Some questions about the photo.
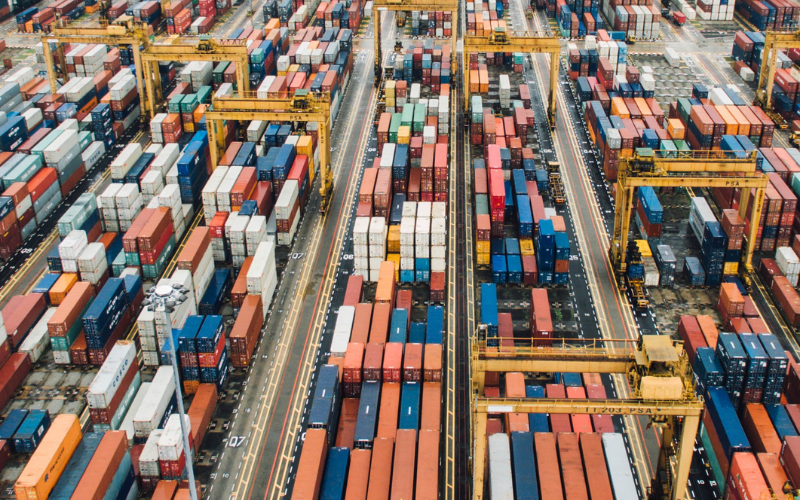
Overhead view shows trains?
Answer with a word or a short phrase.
No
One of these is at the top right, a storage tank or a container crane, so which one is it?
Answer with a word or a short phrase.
container crane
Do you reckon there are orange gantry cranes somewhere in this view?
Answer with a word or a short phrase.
Yes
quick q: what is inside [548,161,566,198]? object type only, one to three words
vehicle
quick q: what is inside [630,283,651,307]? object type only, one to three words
vehicle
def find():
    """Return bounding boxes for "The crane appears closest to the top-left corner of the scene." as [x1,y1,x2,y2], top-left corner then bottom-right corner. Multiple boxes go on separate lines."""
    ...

[42,20,160,122]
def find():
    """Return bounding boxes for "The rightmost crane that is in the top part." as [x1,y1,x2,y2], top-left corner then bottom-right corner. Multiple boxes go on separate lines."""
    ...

[749,25,800,115]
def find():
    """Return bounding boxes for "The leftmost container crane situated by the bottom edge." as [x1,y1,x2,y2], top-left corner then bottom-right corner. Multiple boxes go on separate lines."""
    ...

[465,334,705,500]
